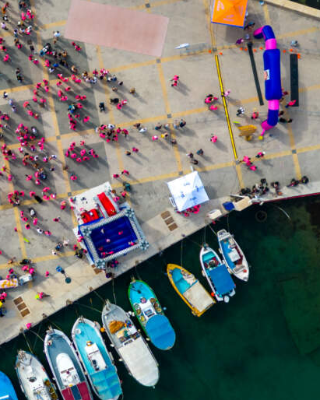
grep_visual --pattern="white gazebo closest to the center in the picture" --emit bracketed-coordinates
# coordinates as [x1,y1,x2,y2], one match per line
[163,171,209,212]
